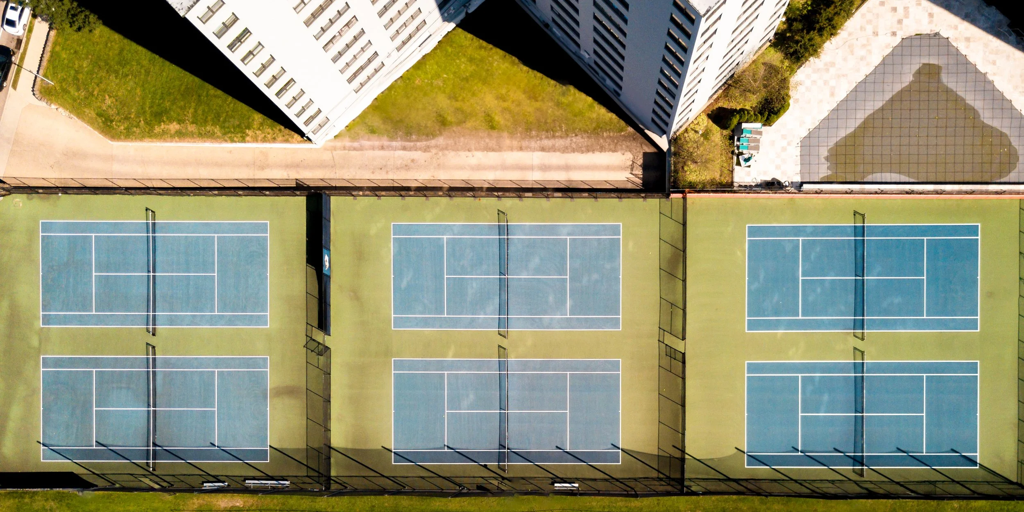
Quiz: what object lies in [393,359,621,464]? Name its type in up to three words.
tennis court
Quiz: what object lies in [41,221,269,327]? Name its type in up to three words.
tennis court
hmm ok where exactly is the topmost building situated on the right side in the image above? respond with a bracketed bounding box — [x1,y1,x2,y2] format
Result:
[513,0,788,154]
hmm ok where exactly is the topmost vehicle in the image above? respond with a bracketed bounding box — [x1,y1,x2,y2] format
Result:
[4,0,29,36]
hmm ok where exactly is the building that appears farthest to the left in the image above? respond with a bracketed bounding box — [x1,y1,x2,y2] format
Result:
[165,0,479,148]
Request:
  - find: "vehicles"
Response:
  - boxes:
[0,46,13,91]
[4,0,29,36]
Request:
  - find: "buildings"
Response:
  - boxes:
[165,0,479,148]
[513,0,788,154]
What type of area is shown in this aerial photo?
sports ground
